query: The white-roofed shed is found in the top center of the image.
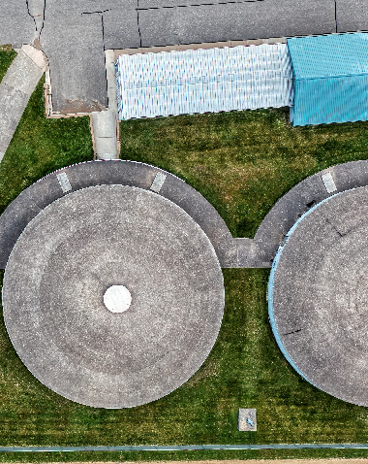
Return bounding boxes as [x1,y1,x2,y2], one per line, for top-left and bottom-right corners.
[118,43,292,121]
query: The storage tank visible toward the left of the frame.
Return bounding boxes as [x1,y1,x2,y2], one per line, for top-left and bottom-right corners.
[2,185,225,408]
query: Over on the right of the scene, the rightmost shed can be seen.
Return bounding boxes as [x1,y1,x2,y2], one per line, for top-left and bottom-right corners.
[283,32,368,126]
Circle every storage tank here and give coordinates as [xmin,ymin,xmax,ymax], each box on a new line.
[2,185,225,408]
[269,187,368,407]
